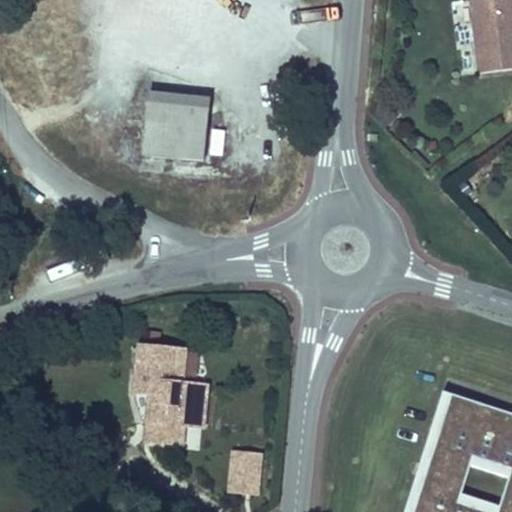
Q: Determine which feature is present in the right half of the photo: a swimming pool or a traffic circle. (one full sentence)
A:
Looking in the right half of the photo, you will find a traffic circle.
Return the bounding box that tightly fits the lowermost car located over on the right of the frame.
[397,429,420,442]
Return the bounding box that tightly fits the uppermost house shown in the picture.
[470,0,512,73]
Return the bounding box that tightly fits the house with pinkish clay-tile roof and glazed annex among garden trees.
[132,330,210,451]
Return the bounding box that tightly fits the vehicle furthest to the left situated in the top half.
[22,180,46,203]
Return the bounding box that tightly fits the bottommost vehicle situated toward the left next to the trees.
[47,261,84,280]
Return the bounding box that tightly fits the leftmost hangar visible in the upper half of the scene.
[142,91,210,161]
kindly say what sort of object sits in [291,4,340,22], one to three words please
vehicle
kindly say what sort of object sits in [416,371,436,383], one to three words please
vehicle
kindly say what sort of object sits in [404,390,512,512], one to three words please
building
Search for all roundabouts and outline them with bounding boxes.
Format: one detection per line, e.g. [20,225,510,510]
[268,162,434,332]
